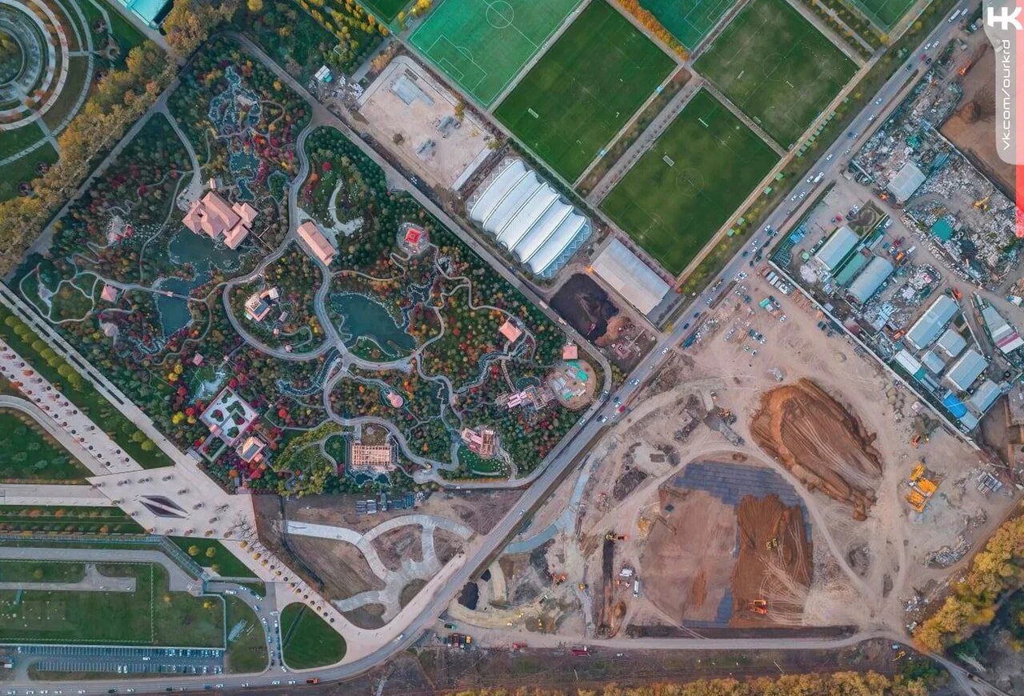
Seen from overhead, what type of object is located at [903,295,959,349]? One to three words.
building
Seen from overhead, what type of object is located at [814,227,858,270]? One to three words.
building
